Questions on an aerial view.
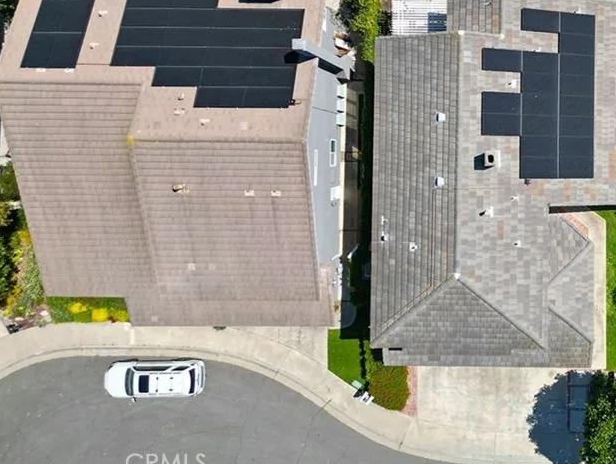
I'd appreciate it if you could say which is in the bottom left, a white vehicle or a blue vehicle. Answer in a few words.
white vehicle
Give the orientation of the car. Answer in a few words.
horizontally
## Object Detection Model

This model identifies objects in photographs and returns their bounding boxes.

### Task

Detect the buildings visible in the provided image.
[0,0,350,328]
[370,0,616,368]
